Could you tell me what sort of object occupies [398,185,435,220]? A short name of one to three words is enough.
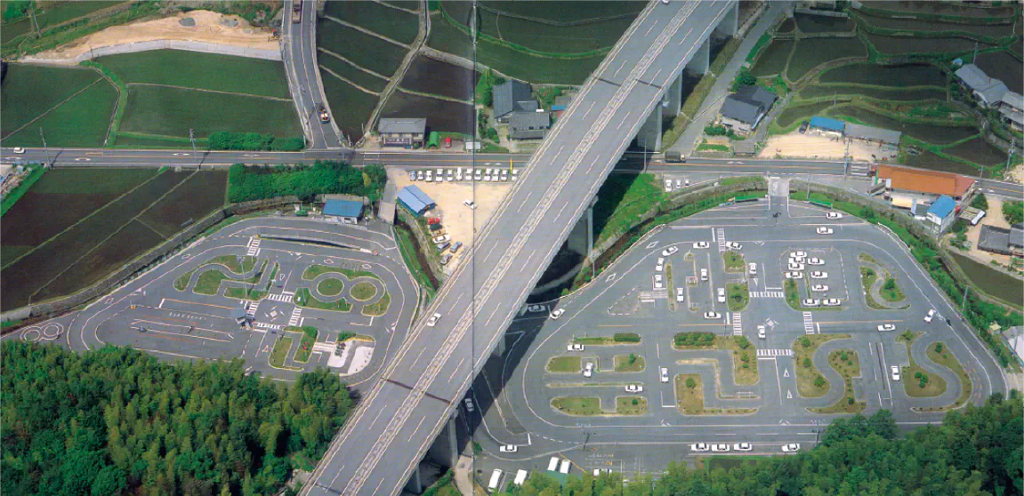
shed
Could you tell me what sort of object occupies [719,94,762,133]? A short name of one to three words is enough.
house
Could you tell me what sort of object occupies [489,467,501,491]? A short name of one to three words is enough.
vehicle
